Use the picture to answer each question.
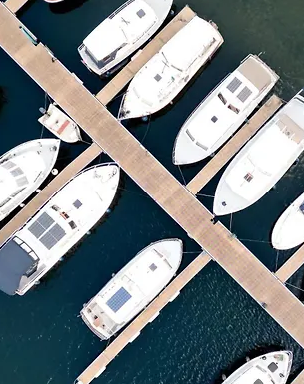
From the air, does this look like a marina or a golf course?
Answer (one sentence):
This image shows a marina.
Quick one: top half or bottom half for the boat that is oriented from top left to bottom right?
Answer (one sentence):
The top half of the photo is where the boat that is oriented from top left to bottom right is.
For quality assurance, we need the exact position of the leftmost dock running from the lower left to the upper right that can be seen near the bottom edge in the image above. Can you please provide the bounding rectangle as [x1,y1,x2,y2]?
[77,247,218,384]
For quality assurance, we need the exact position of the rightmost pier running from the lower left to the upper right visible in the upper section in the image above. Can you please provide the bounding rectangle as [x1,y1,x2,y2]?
[185,94,284,197]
